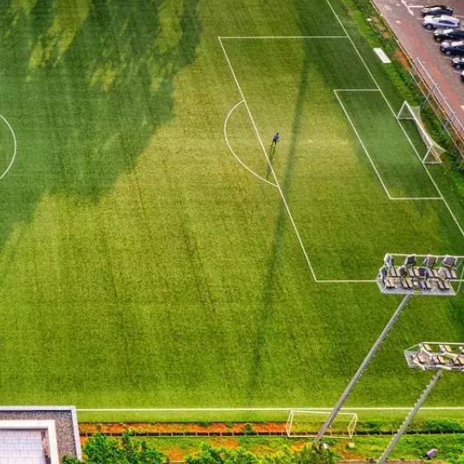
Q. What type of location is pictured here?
sports ground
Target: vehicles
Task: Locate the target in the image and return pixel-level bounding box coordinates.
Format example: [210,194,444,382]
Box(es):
[420,1,460,16]
[435,26,464,42]
[449,55,464,72]
[439,40,464,56]
[423,14,464,28]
